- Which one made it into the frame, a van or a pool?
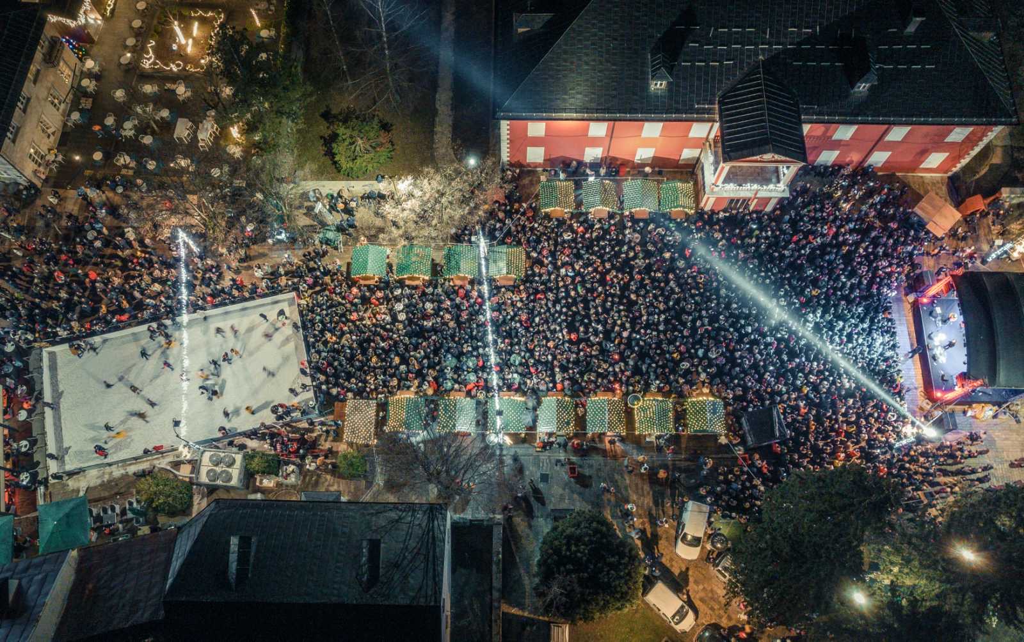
van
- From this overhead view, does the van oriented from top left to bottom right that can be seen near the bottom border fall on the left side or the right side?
right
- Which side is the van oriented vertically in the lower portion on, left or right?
right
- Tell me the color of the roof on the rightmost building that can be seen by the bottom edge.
black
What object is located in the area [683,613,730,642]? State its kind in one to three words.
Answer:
car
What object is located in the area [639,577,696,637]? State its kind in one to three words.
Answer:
van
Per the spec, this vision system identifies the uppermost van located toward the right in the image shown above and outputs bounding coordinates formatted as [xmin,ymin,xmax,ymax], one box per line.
[673,500,709,562]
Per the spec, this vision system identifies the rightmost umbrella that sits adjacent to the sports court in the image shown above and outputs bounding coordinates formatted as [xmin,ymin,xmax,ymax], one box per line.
[38,496,89,555]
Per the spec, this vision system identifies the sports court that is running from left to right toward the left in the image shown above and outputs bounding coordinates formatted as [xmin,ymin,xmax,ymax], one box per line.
[40,291,321,478]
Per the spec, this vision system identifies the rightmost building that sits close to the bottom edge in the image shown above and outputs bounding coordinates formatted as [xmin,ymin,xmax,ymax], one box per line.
[162,499,454,642]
